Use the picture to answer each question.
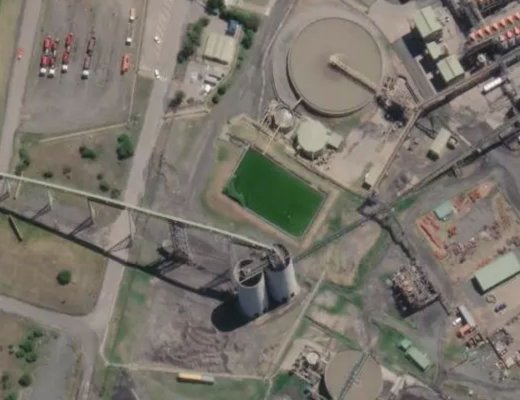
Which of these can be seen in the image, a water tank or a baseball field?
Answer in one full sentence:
Of the two, only a water tank appears.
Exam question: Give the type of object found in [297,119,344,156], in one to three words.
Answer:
water tank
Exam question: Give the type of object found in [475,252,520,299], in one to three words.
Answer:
building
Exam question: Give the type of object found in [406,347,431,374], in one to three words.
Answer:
shed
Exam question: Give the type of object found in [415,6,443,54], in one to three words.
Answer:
building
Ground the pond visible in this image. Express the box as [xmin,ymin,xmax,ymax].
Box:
[222,145,329,239]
